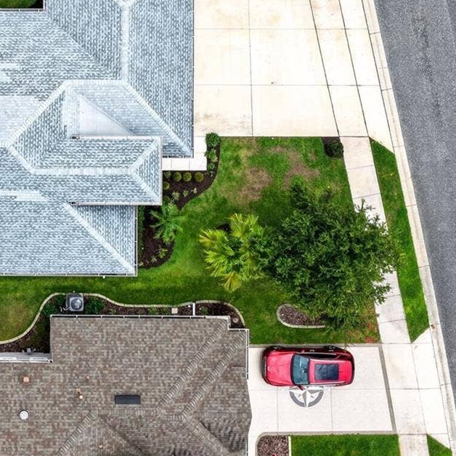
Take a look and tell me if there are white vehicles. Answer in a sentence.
No, I find no white vehicle anywhere in the image.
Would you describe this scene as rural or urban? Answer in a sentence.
The land in this view is best described as urban.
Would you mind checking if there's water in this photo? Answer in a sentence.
No, water can't be seen anywhere here.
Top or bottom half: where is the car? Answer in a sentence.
The bottom half of the photo is where the car is.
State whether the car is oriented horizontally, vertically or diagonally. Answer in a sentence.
In this picture, the car lies horizontally.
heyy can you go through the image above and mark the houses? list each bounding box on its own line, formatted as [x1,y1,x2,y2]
[0,302,252,456]
[0,0,197,278]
